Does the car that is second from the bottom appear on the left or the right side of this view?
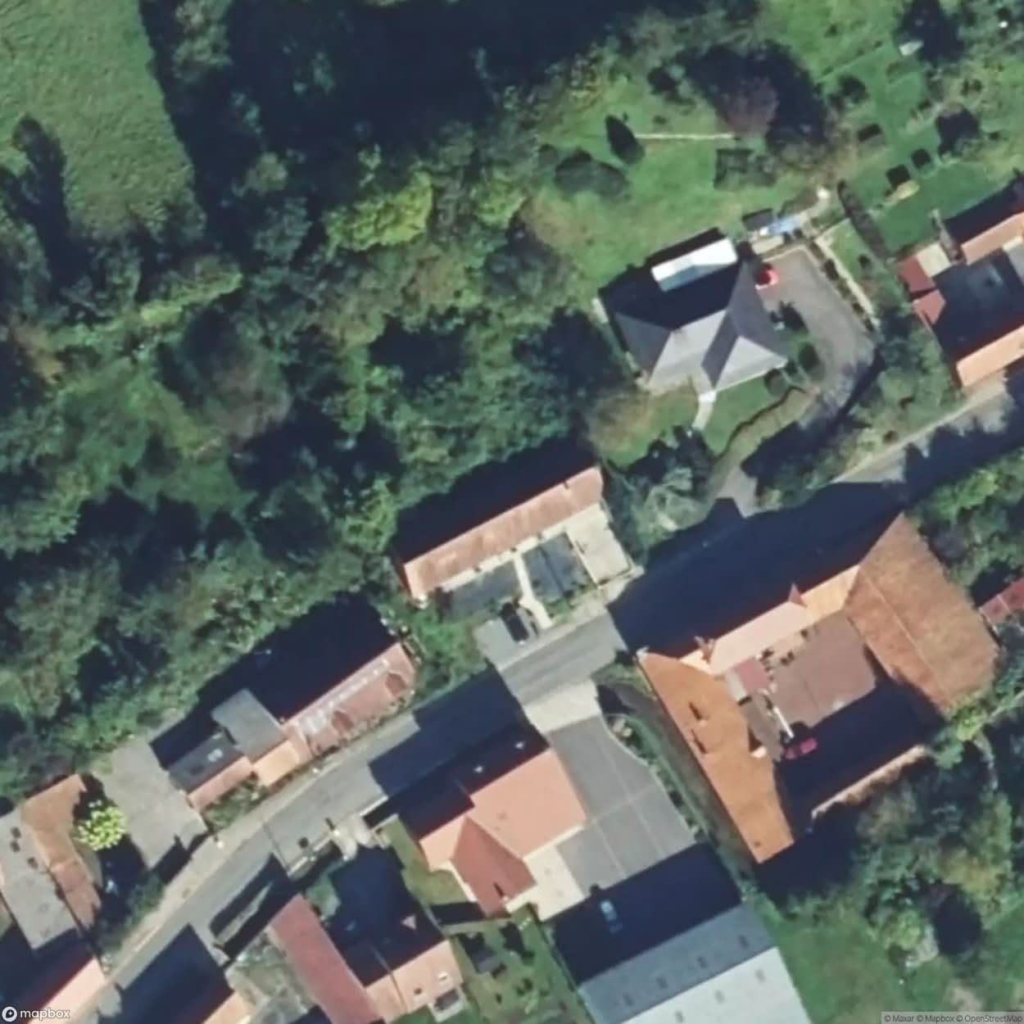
right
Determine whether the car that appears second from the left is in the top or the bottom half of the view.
bottom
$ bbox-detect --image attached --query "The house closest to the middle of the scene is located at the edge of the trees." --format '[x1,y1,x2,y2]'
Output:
[389,439,603,600]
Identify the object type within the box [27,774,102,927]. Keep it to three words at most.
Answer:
building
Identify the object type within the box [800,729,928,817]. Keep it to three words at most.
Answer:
shed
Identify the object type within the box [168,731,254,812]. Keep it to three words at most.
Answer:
house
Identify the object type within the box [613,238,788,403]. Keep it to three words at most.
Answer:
house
